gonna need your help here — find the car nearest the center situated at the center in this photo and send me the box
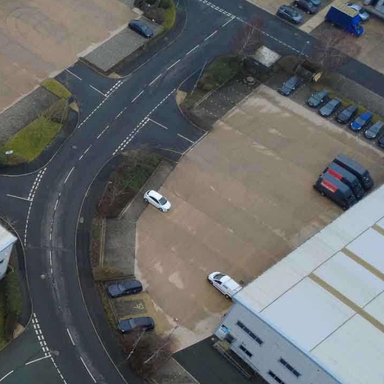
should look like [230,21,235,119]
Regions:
[144,191,171,211]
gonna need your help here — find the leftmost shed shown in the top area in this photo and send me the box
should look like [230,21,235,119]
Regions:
[247,46,282,77]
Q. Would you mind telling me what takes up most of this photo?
paved ground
